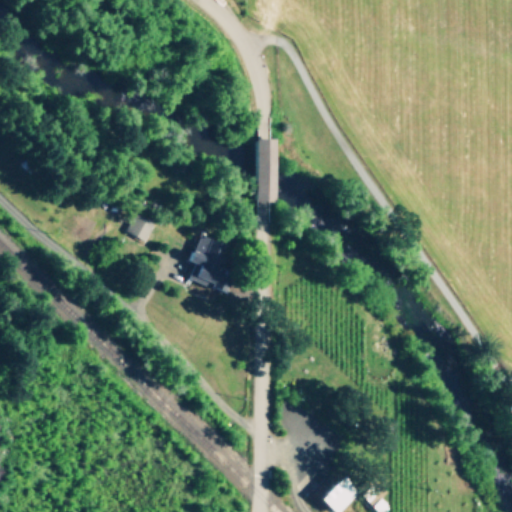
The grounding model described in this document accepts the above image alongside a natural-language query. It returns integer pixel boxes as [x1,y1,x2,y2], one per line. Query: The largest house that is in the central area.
[189,232,224,291]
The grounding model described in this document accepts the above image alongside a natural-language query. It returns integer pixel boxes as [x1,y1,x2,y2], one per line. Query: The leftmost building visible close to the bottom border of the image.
[321,478,357,512]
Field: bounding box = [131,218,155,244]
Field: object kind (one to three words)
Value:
house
